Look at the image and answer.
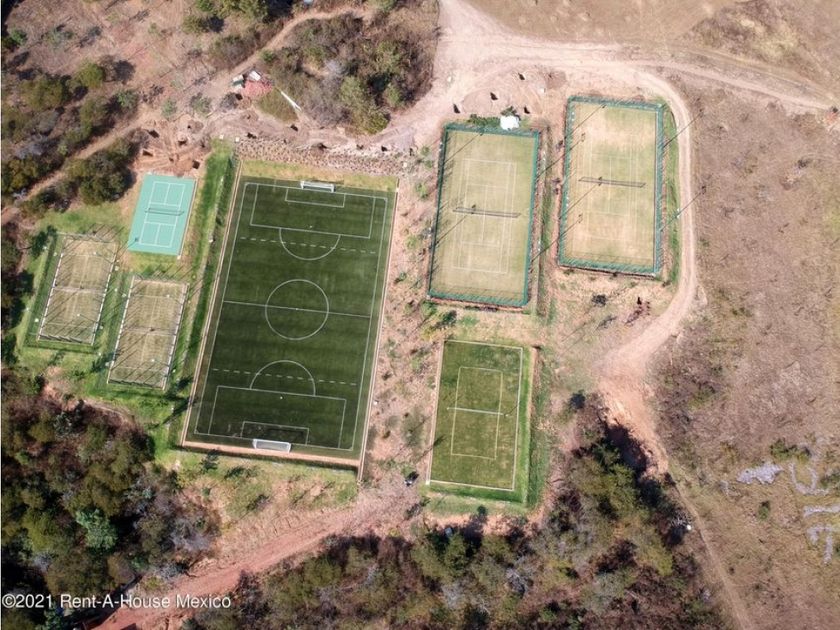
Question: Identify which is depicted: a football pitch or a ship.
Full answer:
Of the two, only a football pitch appears.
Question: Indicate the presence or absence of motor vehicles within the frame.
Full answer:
No, there is no motor vehicle in the image.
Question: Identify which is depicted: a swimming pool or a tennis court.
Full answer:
Visible in the photo is a tennis court.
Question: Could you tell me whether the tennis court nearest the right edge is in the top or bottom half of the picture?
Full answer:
The tennis court nearest the right edge sits in the top half of the picture.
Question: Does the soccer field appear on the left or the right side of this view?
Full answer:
It is on the left.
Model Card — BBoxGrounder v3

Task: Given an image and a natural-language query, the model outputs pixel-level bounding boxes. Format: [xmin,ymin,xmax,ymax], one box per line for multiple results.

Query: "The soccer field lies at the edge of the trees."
[180,158,404,485]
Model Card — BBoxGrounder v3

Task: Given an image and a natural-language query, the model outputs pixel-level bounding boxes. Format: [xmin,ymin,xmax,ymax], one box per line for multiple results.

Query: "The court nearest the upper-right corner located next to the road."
[559,104,659,273]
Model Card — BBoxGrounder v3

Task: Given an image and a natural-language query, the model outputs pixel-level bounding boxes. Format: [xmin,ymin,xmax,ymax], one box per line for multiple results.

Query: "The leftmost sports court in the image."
[38,239,116,345]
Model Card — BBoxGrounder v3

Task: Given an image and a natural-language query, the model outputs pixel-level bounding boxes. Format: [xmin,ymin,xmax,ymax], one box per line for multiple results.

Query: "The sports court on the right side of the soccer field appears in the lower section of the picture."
[427,340,535,503]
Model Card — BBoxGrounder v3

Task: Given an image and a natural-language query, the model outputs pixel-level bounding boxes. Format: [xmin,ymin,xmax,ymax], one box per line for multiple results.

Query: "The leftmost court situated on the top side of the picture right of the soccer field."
[428,134,537,307]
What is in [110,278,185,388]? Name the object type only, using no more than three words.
sports court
